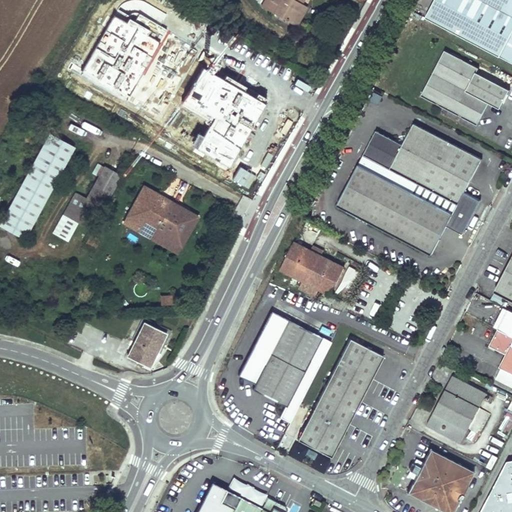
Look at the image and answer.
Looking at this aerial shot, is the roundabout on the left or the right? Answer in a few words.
left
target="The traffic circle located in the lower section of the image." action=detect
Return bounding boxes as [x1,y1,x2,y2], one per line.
[128,376,222,466]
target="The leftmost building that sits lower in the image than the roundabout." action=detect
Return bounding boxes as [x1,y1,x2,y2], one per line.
[198,484,262,512]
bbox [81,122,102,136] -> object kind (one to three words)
vehicle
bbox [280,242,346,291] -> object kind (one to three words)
house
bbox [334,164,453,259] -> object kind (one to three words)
building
